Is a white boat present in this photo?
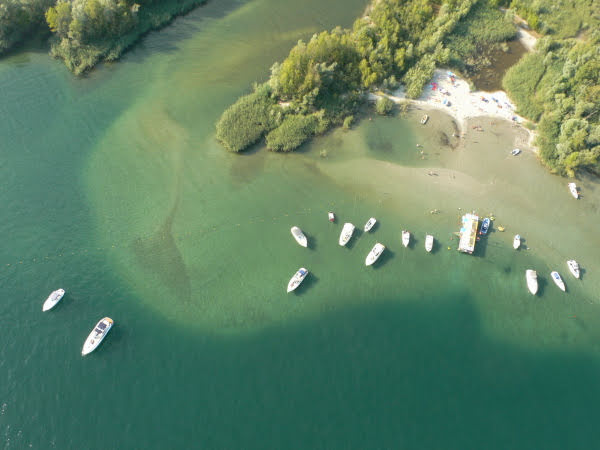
Yes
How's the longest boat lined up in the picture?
at an angle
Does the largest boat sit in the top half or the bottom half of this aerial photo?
bottom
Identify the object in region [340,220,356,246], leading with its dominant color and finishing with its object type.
white boat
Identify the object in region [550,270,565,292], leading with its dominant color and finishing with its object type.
white boat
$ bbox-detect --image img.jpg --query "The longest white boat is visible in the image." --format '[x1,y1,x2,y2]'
[81,314,117,354]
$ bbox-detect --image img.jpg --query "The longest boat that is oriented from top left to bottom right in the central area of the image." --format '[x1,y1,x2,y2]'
[289,225,308,248]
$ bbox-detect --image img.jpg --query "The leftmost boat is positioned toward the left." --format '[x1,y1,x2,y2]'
[42,288,68,311]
